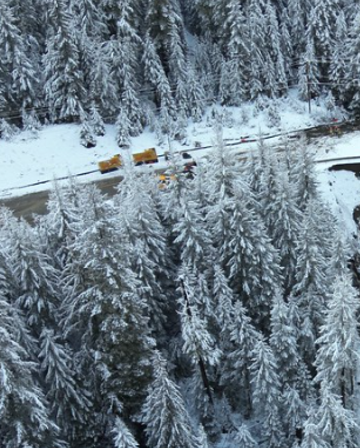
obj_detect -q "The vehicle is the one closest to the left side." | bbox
[94,157,126,176]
